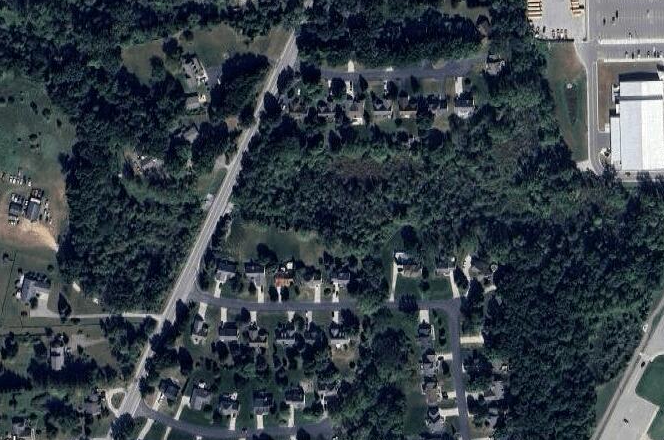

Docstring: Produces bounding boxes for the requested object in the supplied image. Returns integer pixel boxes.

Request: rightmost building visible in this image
[610,66,664,171]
